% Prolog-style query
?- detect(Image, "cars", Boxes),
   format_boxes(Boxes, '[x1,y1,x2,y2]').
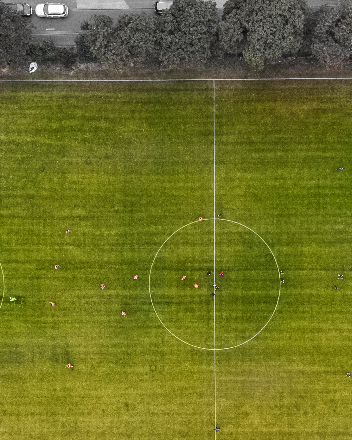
[5,1,33,18]
[35,1,67,18]
[155,2,173,17]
